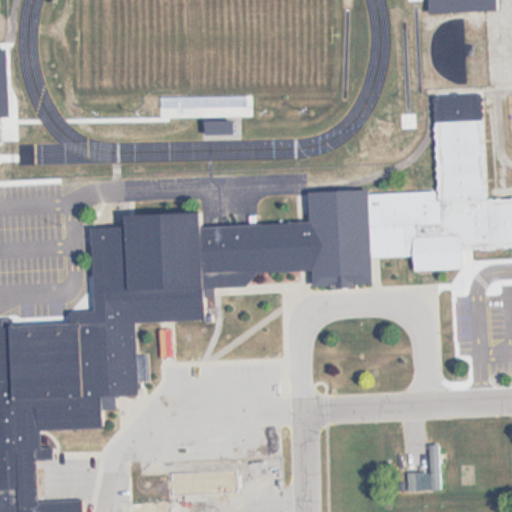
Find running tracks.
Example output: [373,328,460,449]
[20,0,390,166]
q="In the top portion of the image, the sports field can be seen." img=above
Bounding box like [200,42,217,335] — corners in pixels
[75,0,345,94]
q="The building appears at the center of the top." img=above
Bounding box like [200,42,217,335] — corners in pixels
[204,119,233,134]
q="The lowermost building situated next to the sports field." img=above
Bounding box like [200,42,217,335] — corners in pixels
[0,189,372,512]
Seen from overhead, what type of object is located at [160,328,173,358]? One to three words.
shed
